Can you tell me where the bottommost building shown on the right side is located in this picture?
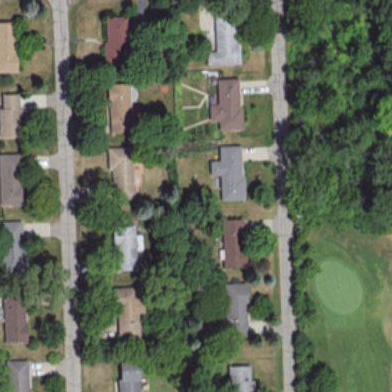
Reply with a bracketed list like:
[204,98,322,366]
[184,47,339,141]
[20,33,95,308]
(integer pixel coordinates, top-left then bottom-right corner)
[230,365,254,392]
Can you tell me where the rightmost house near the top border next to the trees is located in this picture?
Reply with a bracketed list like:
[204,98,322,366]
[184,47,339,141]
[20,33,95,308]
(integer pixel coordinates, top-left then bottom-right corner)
[208,14,243,66]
